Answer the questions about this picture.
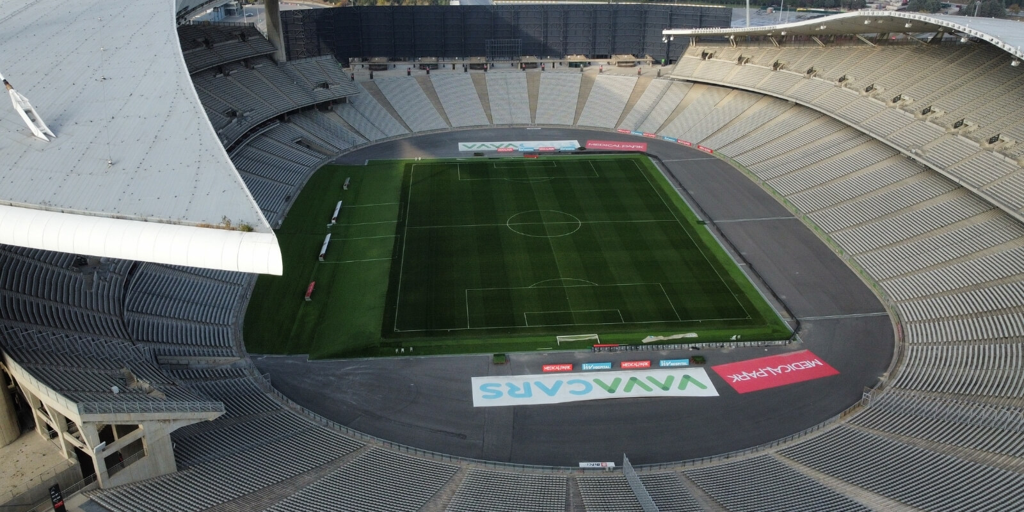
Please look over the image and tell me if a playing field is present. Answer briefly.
Yes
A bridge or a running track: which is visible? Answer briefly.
running track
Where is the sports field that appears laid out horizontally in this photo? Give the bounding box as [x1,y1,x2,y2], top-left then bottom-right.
[381,157,770,339]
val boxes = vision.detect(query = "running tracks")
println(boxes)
[239,127,899,470]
